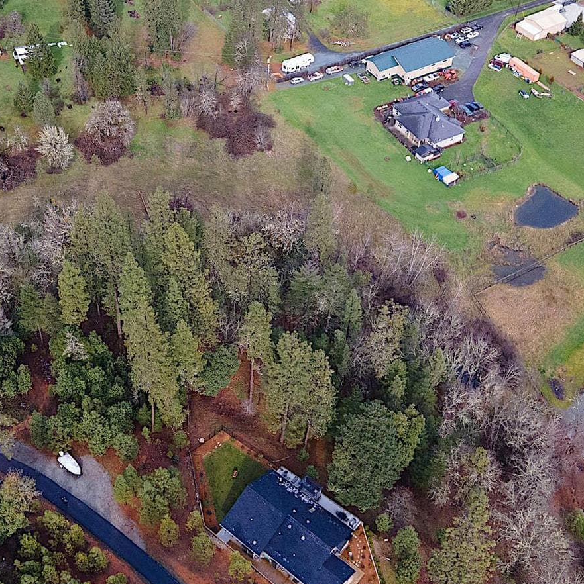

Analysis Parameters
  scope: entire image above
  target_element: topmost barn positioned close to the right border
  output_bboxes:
[513,7,568,45]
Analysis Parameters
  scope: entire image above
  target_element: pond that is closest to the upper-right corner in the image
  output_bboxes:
[513,184,578,228]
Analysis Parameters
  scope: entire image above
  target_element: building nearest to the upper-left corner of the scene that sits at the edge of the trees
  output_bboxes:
[11,44,34,69]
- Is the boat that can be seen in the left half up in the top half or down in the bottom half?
bottom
